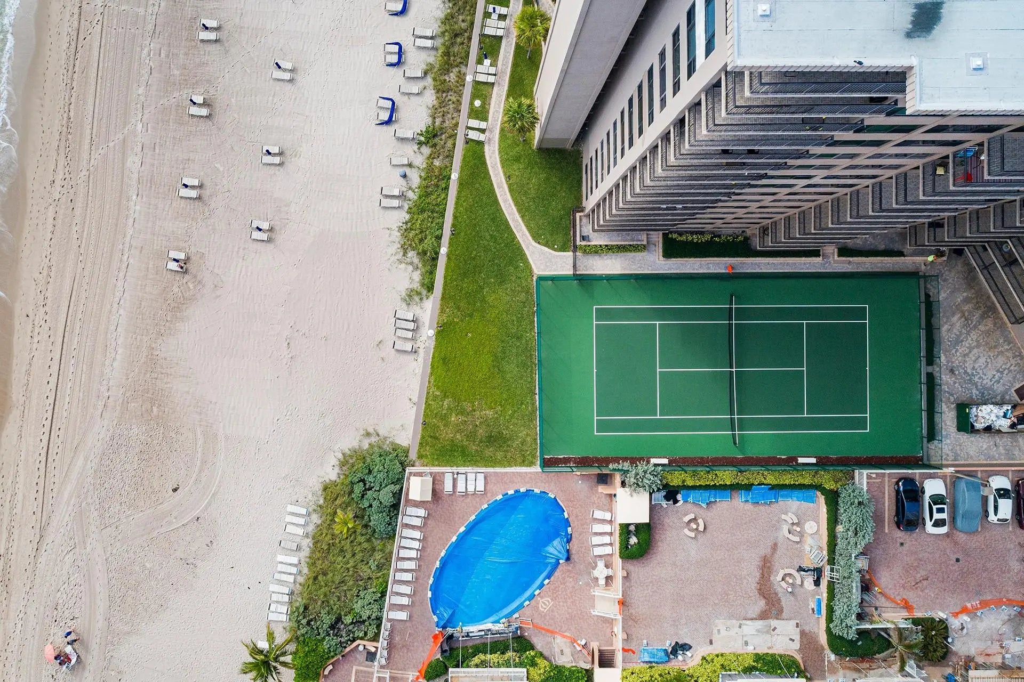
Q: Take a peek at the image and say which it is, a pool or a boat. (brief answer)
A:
pool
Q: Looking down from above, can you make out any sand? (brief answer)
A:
Yes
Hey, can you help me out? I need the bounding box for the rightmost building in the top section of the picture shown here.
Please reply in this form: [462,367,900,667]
[536,0,1024,326]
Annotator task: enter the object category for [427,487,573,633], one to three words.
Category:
swimming pool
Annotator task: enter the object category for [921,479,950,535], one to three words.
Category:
car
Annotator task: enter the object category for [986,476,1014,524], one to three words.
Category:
car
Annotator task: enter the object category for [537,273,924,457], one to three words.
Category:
tennis court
